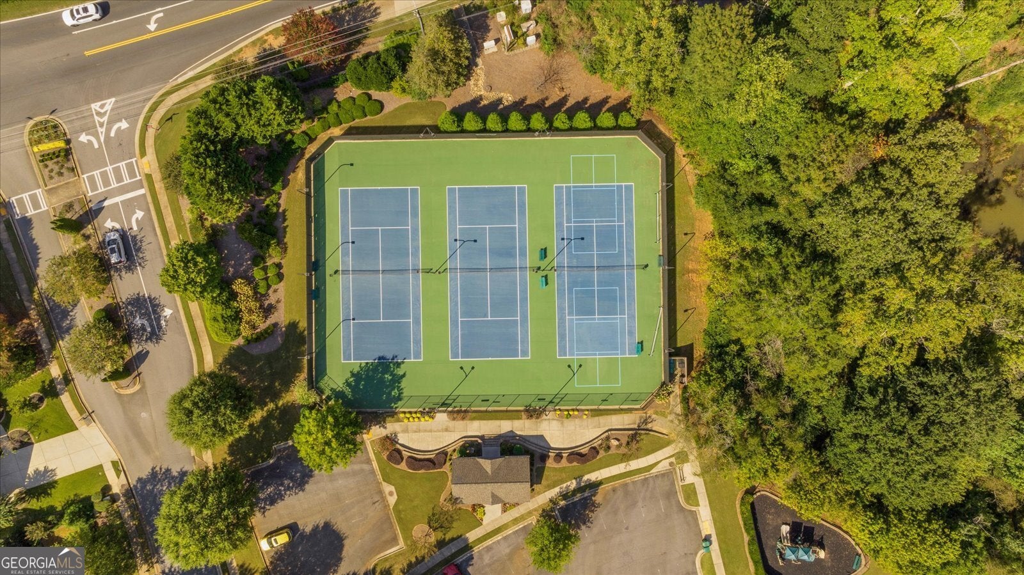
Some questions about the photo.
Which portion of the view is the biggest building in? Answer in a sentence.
The biggest building appears toward the bottom of the photo.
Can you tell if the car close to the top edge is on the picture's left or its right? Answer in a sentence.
The car close to the top edge is on the left side of the image.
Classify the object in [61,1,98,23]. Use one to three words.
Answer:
car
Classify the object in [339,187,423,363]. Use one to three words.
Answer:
tennis court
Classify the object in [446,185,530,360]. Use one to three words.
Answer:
tennis court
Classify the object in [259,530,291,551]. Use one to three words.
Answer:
car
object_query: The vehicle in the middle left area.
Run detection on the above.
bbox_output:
[102,230,125,265]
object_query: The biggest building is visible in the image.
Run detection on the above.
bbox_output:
[451,452,531,507]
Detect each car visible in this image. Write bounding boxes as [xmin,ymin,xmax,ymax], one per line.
[61,1,98,23]
[444,564,459,575]
[259,530,291,551]
[102,230,125,265]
